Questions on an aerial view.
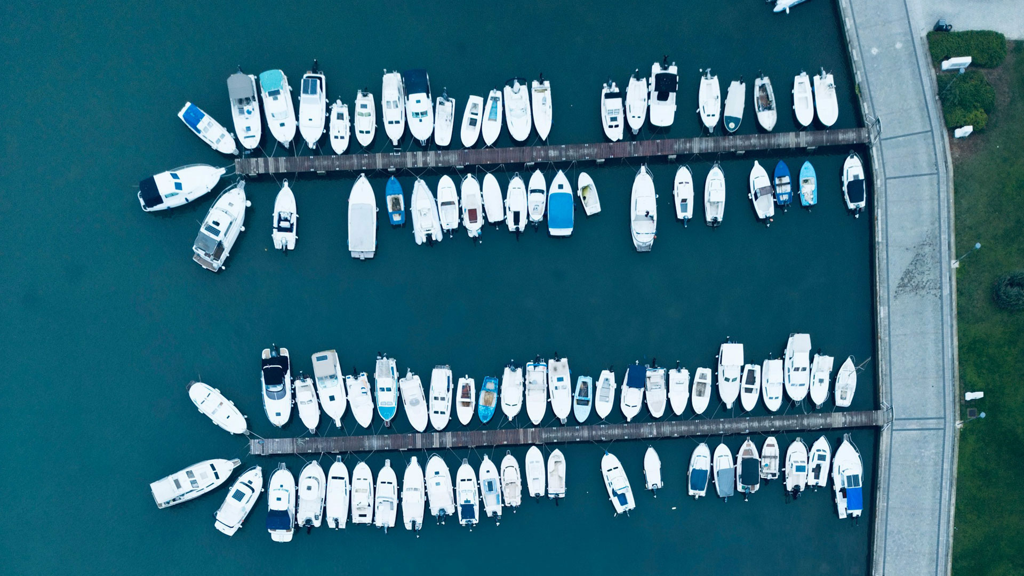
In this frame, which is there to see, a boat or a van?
boat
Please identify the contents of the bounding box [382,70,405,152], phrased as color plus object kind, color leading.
white boat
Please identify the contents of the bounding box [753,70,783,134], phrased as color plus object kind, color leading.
white boat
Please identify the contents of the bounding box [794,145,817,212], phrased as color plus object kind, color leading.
blue boat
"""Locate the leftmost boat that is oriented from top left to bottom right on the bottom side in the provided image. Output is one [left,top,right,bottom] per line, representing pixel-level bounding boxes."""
[185,378,263,440]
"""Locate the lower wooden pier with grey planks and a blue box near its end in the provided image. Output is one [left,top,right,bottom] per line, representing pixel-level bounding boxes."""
[250,410,879,456]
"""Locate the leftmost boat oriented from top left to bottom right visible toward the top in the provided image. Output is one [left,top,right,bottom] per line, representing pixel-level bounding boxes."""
[177,101,240,160]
